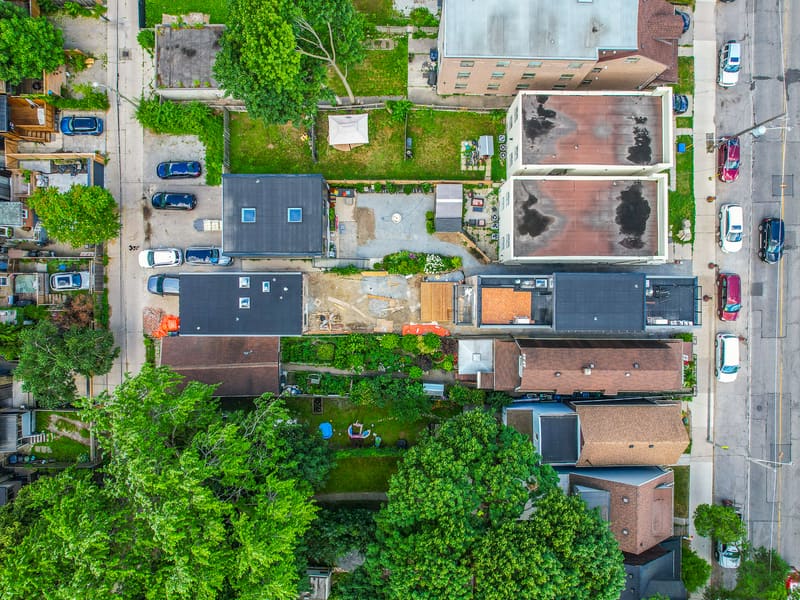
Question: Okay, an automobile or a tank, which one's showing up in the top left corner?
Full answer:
You can see an automobile in the top left corner.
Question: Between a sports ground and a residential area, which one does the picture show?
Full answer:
What you see here is a residential area.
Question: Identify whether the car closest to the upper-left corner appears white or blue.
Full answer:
The color of the car closest to the upper-left corner is blue.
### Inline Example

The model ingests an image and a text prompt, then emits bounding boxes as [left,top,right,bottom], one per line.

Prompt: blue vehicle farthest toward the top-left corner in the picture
[60,113,105,138]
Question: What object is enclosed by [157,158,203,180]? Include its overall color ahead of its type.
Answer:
blue car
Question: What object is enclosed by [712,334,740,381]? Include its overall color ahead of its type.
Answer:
white car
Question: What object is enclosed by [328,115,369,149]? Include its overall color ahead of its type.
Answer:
white gazebo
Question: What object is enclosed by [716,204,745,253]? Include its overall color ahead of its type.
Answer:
white car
